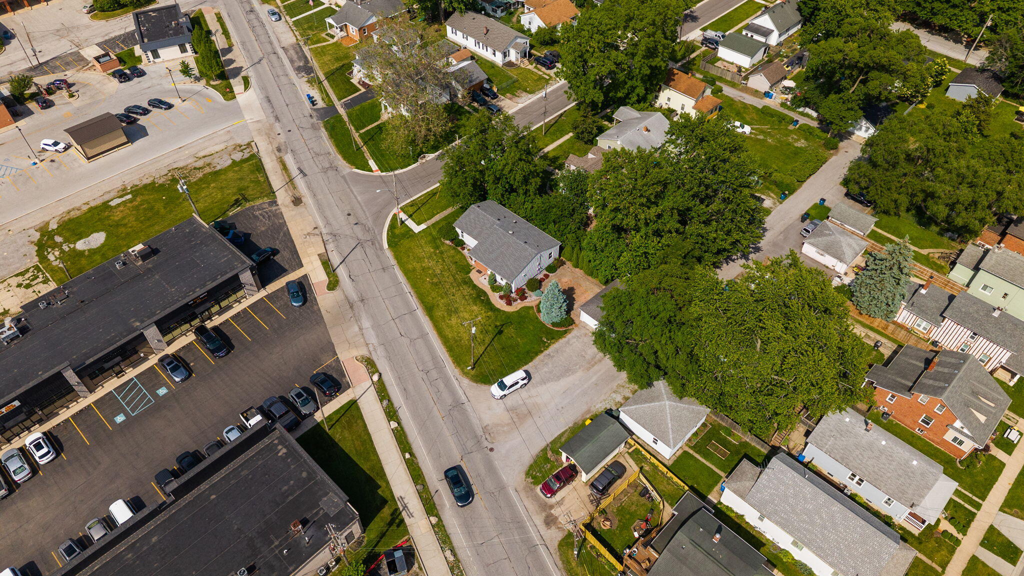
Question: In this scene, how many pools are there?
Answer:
0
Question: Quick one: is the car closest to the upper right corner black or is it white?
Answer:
black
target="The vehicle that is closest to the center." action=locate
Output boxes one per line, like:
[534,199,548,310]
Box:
[491,369,530,400]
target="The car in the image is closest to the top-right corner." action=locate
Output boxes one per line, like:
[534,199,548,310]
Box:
[843,188,873,209]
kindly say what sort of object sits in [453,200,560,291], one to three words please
house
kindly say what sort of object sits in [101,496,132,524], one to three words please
vehicle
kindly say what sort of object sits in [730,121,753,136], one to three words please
car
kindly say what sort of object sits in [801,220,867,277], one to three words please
building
